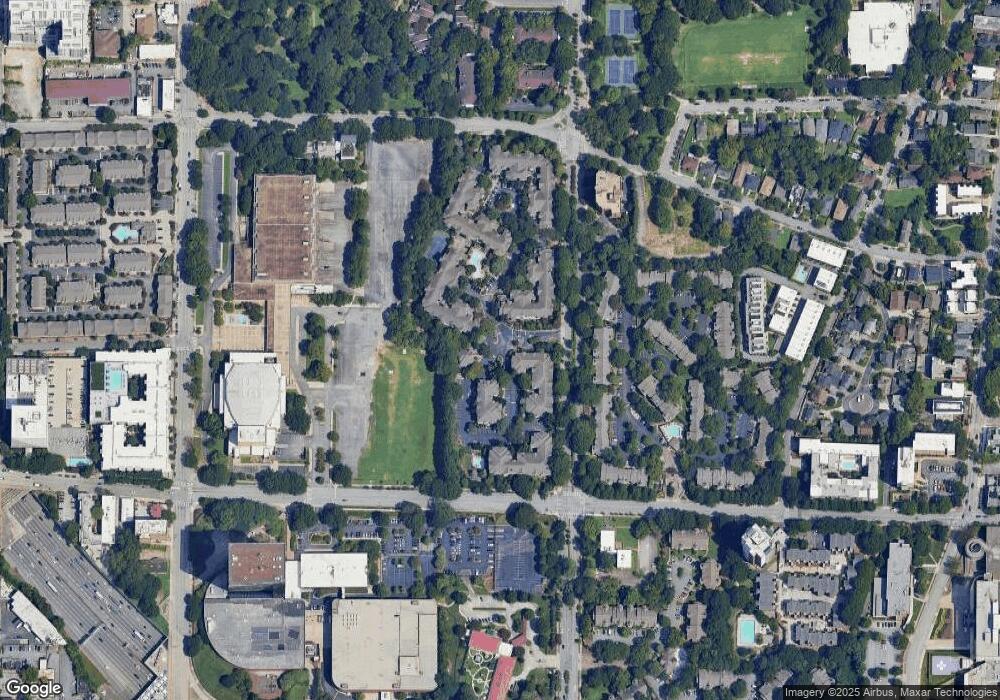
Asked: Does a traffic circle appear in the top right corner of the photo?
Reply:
No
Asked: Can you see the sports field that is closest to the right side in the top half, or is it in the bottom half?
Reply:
top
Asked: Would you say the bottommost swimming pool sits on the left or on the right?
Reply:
right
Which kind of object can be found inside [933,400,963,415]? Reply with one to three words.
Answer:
house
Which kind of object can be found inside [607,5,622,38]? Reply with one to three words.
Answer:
tennis court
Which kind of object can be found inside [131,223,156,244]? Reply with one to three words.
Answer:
building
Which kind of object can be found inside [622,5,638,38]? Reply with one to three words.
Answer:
tennis court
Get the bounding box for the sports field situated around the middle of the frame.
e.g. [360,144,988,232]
[357,345,434,486]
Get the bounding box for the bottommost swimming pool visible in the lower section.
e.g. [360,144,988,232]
[737,613,772,646]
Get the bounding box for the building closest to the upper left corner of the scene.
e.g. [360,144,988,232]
[9,0,90,68]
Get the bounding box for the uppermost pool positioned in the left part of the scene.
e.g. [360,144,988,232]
[112,222,140,243]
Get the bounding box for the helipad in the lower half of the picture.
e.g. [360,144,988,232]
[932,655,961,676]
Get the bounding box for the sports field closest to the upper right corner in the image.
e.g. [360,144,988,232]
[679,14,811,96]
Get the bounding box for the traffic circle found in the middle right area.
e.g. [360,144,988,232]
[843,384,879,420]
